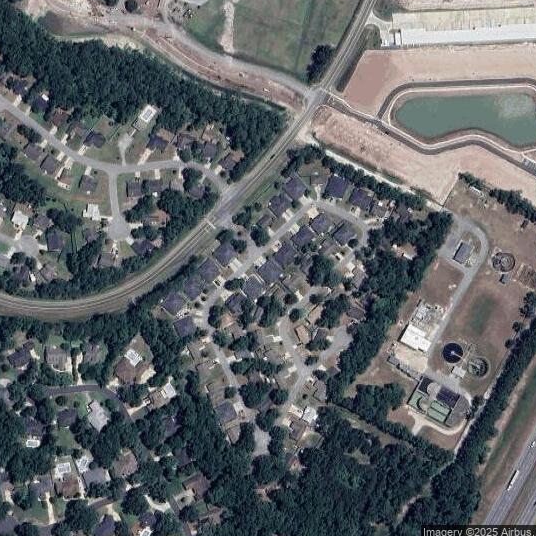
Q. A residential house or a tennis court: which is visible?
residential house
